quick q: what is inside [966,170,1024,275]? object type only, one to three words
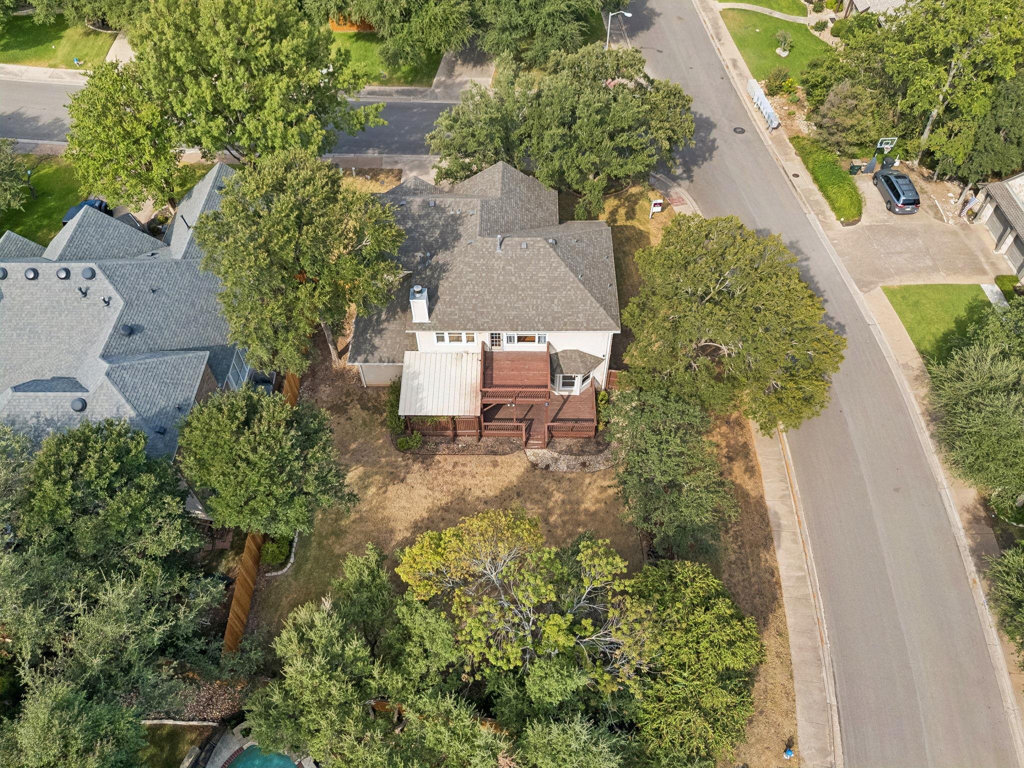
house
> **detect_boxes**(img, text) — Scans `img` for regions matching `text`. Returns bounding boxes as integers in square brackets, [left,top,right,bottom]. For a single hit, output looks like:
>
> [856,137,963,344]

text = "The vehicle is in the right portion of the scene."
[875,164,922,210]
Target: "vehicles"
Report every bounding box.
[60,193,139,224]
[875,164,922,210]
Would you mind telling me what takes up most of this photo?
trees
